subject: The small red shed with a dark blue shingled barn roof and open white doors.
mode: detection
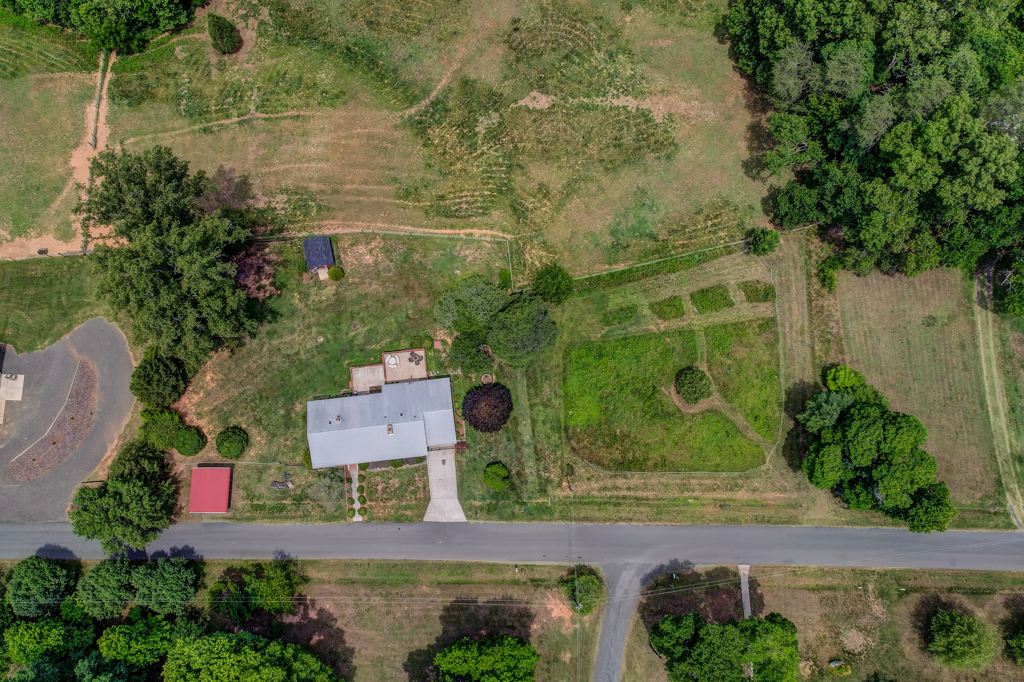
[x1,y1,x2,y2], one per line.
[302,235,337,279]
